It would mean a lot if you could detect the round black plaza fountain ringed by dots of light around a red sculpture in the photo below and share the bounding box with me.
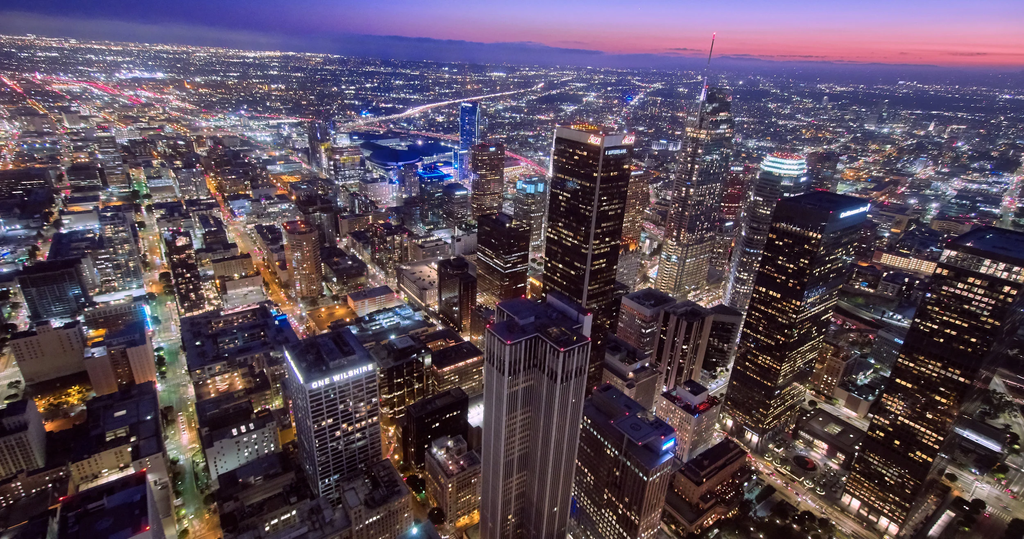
[791,454,819,475]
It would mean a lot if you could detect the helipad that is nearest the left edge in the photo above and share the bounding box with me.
[390,338,411,356]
